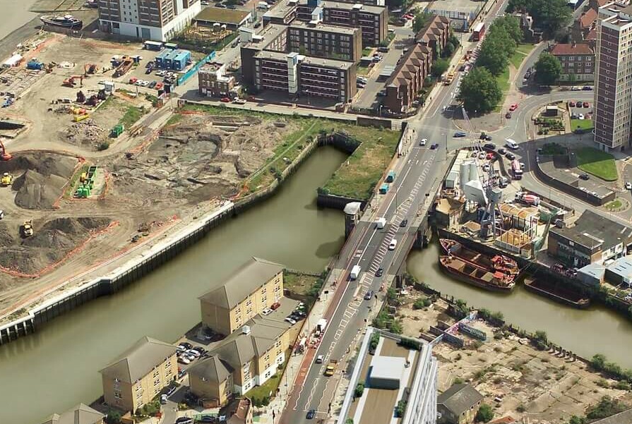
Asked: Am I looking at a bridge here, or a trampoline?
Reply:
bridge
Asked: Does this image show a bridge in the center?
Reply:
Yes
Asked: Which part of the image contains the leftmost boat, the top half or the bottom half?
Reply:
top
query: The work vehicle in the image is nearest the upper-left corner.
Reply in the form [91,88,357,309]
[40,60,56,73]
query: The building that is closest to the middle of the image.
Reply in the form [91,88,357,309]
[338,203,362,231]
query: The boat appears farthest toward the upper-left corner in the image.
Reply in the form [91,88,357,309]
[39,7,85,28]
